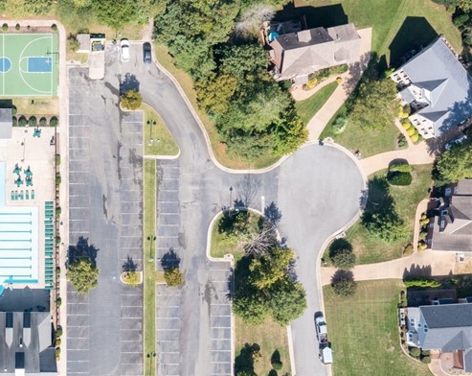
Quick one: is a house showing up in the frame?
Yes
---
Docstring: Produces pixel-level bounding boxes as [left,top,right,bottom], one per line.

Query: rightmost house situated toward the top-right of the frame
[390,38,472,144]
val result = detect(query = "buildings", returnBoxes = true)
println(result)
[390,38,472,144]
[262,17,361,85]
[399,306,472,376]
[417,179,472,249]
[0,108,13,139]
[77,32,89,53]
[0,312,57,376]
